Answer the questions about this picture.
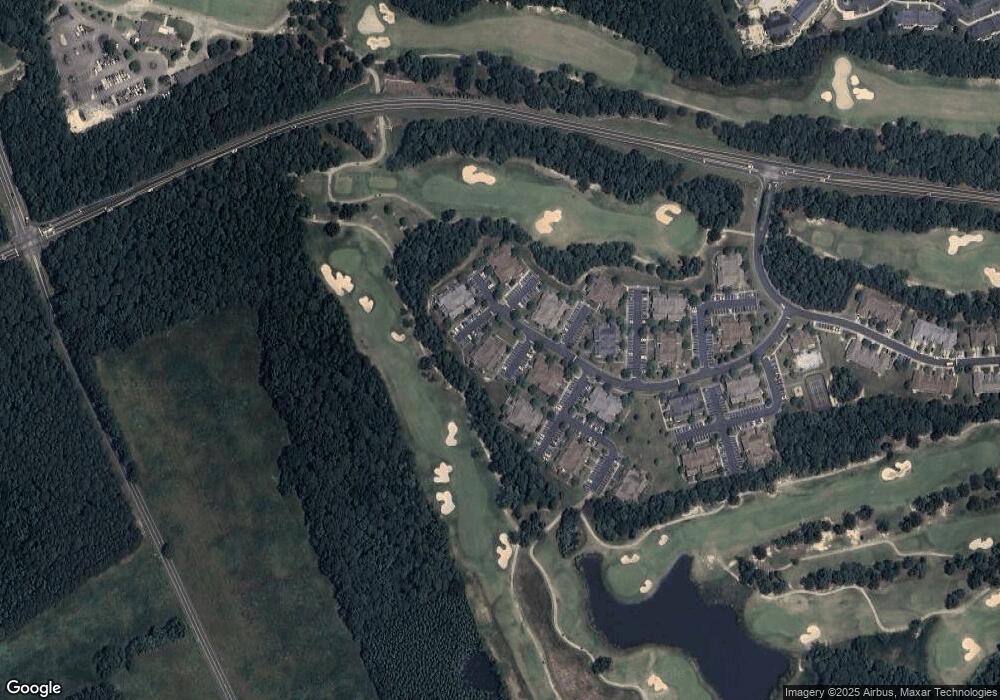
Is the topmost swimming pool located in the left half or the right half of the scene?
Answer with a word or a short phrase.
right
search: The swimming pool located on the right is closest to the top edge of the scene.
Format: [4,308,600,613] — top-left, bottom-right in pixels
[797,350,822,371]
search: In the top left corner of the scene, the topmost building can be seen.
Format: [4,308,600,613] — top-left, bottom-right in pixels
[138,19,180,51]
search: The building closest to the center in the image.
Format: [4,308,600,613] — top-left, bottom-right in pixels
[466,336,510,379]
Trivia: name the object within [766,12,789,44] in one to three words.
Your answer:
building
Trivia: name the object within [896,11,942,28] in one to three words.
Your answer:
building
